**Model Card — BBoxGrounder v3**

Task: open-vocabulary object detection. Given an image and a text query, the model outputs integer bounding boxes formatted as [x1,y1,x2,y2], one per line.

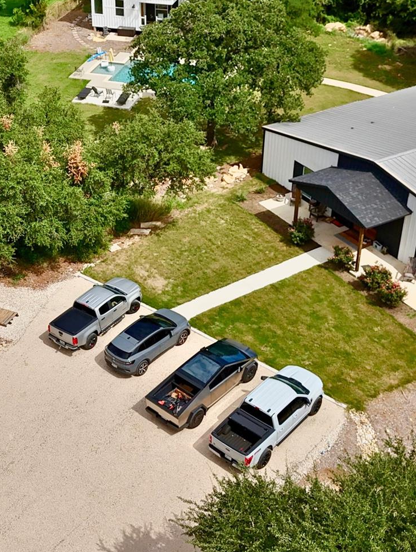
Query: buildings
[91,0,177,33]
[261,86,416,273]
